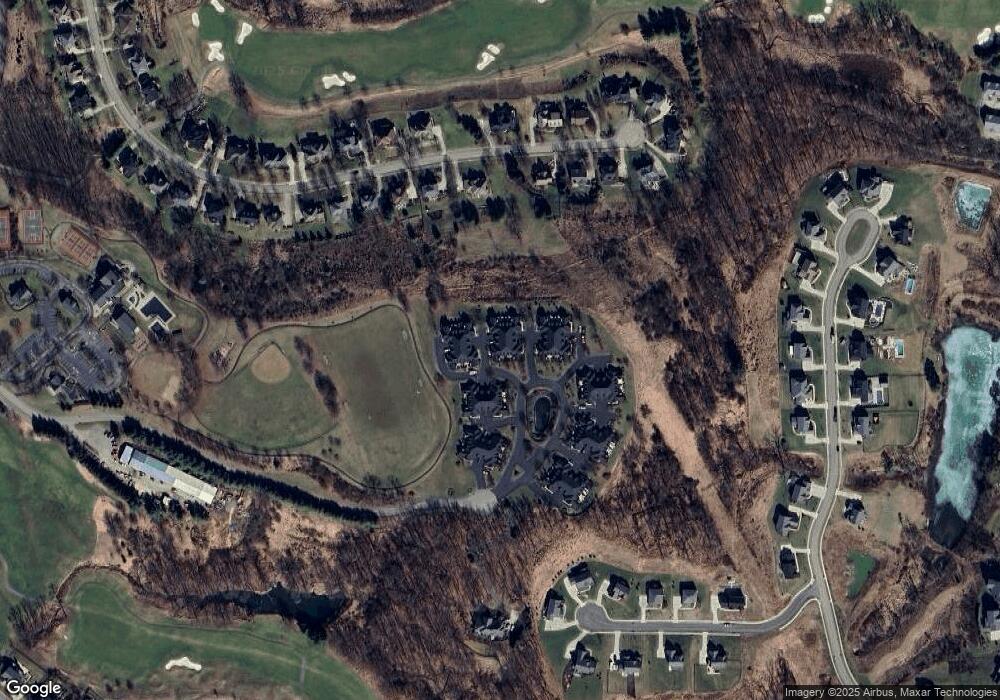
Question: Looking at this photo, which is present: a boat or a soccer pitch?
soccer pitch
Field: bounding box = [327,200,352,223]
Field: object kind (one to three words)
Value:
house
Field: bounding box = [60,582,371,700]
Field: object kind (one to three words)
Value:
golf course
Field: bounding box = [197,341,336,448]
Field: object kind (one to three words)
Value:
baseball field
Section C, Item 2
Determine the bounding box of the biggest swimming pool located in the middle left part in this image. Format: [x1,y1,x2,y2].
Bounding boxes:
[137,292,176,324]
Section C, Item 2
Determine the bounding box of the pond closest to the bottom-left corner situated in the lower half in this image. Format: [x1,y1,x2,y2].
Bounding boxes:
[171,585,349,642]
